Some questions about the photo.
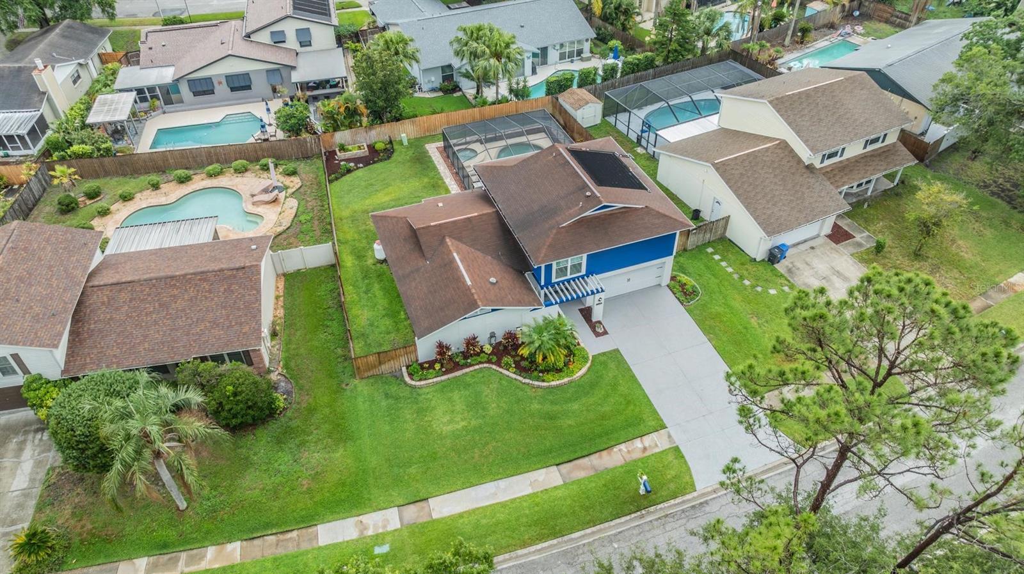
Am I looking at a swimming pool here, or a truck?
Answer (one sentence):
This aerial view contains a swimming pool.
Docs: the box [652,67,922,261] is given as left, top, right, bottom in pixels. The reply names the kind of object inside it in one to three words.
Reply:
house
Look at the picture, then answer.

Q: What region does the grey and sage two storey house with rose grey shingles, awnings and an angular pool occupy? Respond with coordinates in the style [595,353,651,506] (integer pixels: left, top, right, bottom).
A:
[114,0,350,107]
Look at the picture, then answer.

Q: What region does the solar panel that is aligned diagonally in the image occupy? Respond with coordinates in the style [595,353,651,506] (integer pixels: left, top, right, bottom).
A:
[564,144,649,192]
